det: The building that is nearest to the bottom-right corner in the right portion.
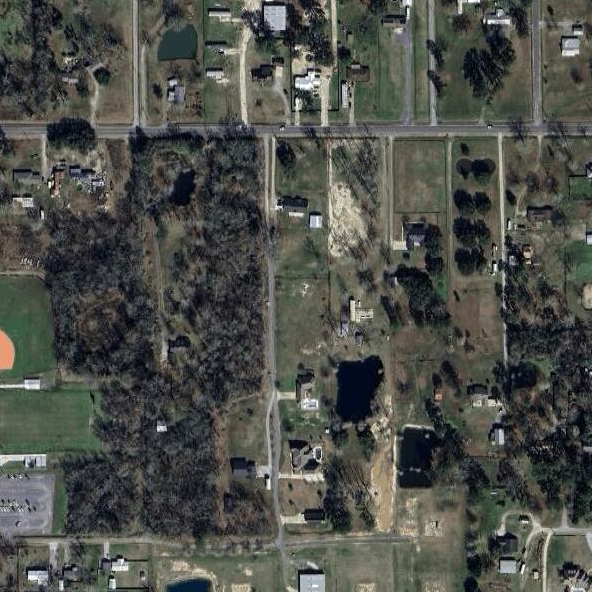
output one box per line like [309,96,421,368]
[558,562,592,591]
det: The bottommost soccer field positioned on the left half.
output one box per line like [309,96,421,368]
[0,388,103,454]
